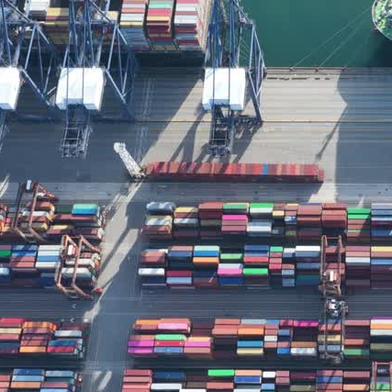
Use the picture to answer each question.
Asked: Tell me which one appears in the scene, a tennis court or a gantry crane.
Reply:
gantry crane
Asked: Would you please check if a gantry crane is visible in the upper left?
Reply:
Yes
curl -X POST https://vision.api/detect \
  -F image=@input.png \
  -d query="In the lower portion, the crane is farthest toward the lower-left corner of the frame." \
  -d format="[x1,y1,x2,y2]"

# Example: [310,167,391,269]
[55,237,99,301]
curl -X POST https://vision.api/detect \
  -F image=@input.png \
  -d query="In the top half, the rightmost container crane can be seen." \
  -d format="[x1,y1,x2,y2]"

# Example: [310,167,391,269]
[202,0,269,161]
